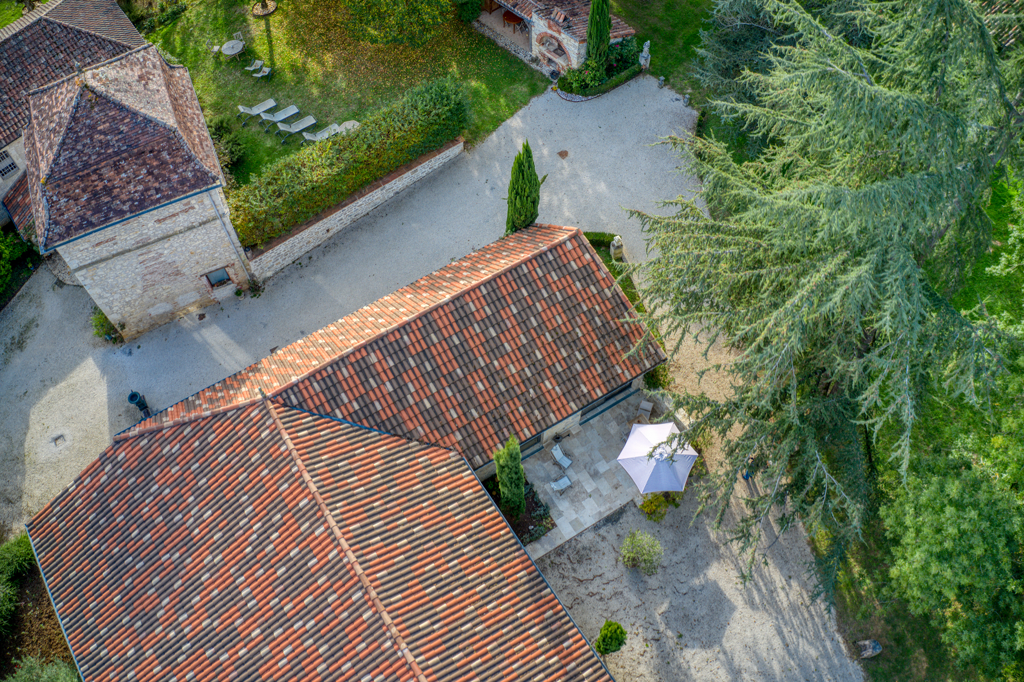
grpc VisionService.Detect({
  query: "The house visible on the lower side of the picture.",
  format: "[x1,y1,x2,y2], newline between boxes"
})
[23,220,669,682]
